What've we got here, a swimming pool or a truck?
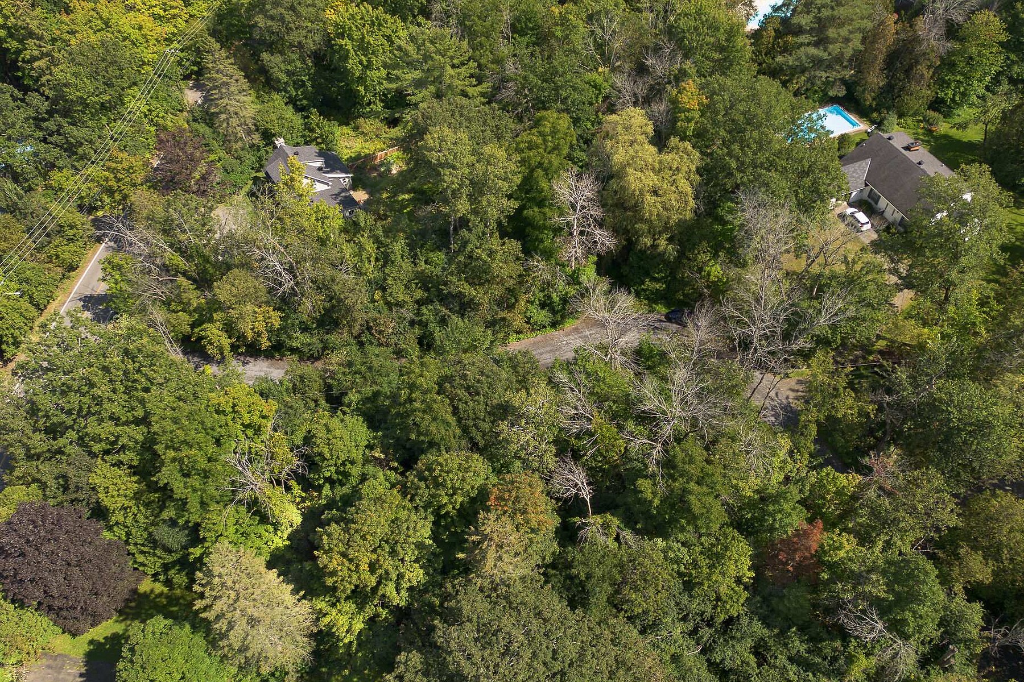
swimming pool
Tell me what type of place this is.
forest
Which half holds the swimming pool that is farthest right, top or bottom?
top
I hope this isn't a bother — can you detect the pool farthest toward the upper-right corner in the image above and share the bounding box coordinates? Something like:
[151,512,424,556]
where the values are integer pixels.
[816,101,869,142]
